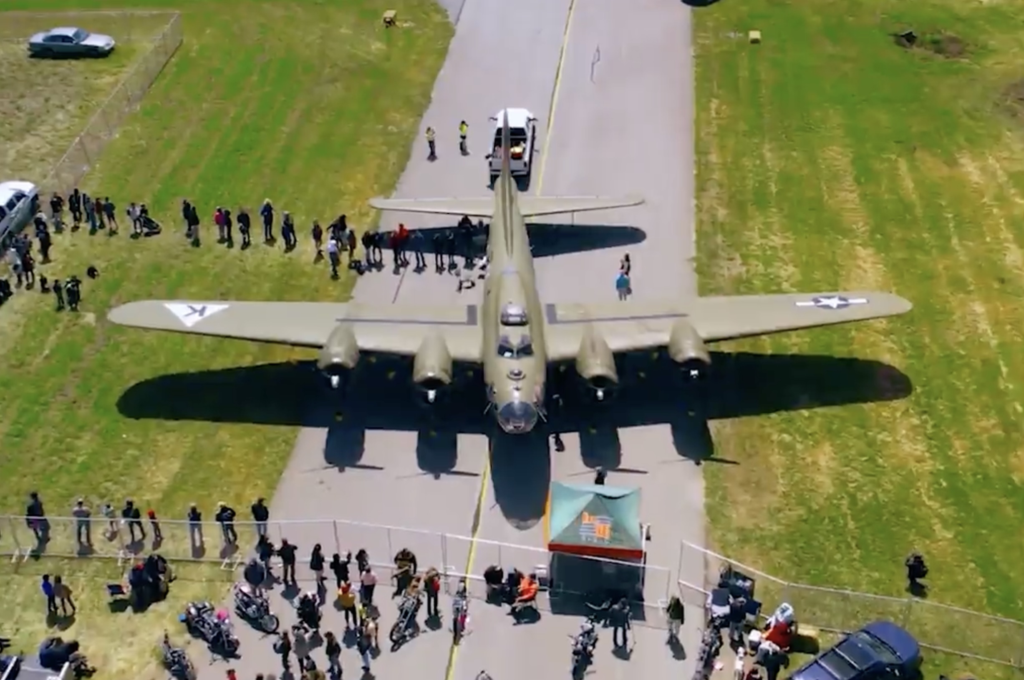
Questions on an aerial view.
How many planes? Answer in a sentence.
Just 1 plane appears in this view.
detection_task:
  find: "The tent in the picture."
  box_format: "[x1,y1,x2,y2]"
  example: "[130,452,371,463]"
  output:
[537,482,650,604]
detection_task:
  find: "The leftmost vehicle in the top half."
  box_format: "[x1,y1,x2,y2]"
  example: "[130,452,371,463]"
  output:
[0,184,42,246]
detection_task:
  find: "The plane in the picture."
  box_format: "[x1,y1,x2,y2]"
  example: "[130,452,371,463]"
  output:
[110,109,910,443]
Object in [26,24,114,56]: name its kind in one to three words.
car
